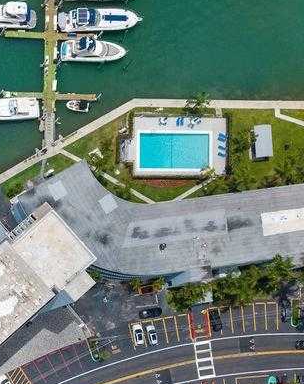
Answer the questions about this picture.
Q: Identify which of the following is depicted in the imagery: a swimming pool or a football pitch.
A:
swimming pool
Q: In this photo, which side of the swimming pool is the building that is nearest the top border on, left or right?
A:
on its right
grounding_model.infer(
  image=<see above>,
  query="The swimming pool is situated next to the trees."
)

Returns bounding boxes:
[119,118,225,175]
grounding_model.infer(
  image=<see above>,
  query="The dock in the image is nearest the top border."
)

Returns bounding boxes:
[0,0,98,116]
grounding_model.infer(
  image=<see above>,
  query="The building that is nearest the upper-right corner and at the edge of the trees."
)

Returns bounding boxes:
[247,125,272,163]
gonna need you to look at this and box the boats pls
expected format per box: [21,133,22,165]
[57,5,142,34]
[0,0,36,31]
[0,97,41,124]
[59,34,126,63]
[64,102,89,115]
